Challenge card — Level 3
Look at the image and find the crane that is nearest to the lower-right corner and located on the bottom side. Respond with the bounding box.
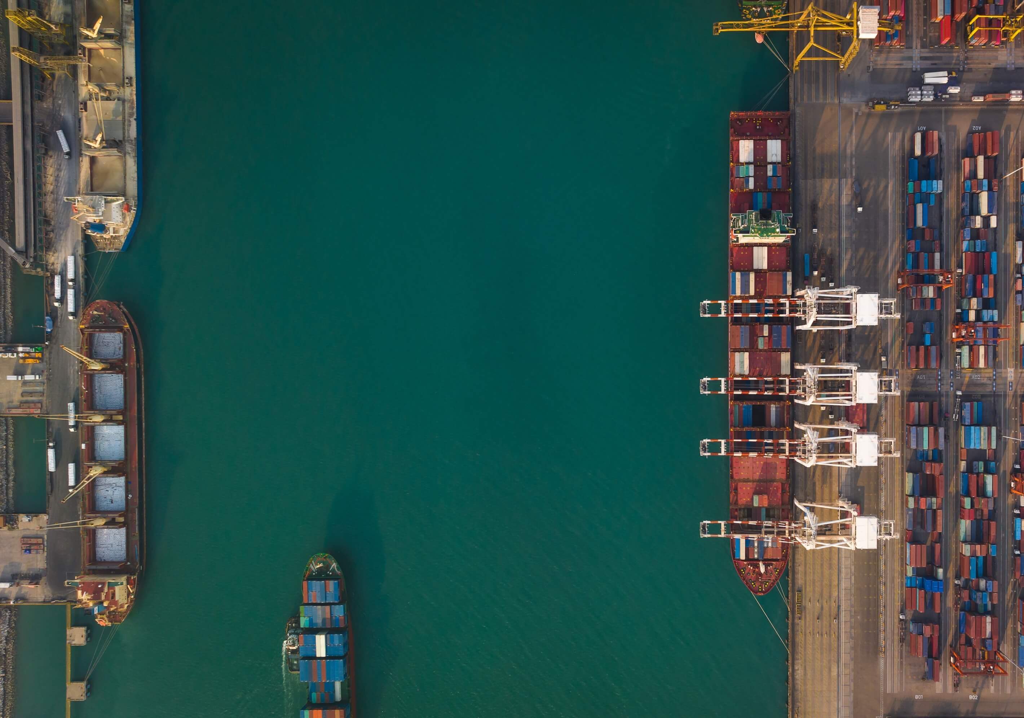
[952,647,1012,679]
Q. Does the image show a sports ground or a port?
port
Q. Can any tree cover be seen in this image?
No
